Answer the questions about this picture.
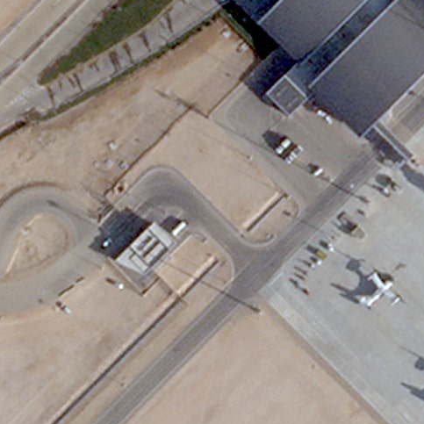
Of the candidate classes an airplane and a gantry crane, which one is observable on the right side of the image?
airplane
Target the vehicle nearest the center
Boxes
[171,221,186,236]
